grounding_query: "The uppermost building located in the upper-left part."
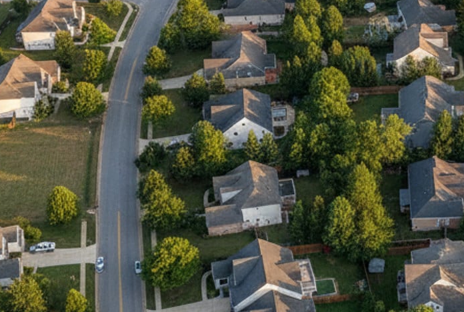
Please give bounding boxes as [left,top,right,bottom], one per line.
[20,0,93,48]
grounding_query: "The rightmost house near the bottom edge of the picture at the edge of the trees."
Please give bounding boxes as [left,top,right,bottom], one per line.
[404,246,464,312]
